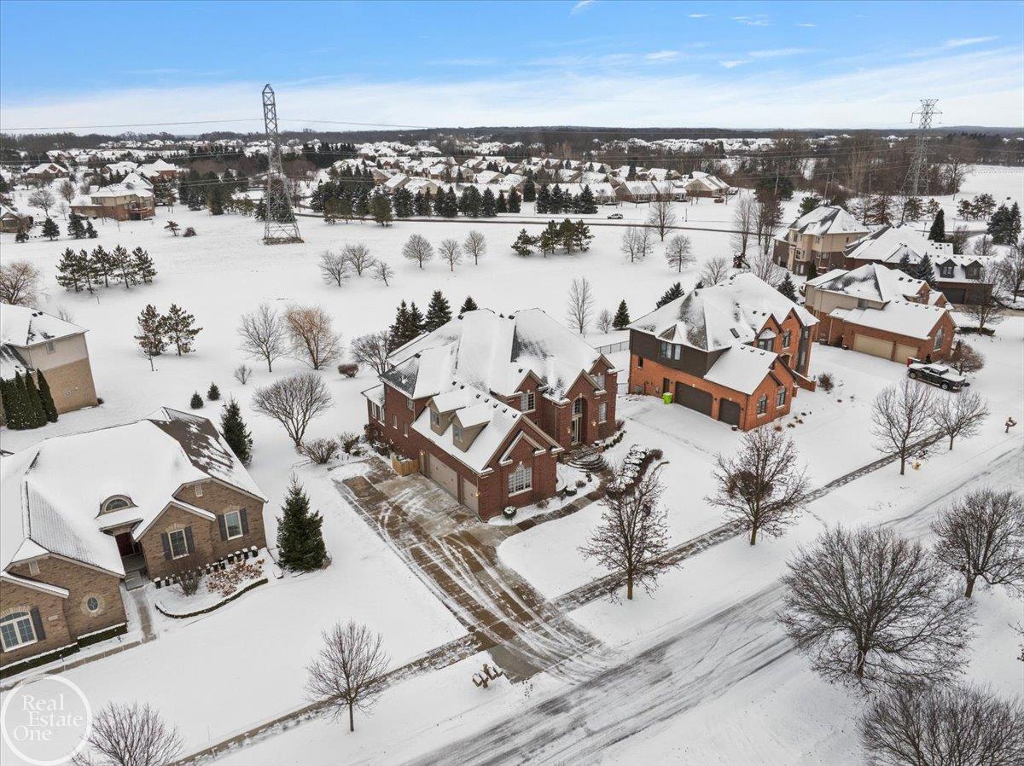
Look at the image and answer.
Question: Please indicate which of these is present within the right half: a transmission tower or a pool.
transmission tower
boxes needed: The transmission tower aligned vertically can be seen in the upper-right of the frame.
[897,93,946,197]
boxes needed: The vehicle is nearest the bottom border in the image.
[907,367,970,390]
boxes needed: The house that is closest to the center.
[361,306,624,521]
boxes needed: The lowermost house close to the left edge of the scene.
[0,407,271,663]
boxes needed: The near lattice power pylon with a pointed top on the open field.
[259,83,299,243]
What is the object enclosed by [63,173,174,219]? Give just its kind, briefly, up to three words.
house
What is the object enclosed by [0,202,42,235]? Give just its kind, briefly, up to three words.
house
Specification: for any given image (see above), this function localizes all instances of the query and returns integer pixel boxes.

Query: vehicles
[907,367,970,390]
[608,214,623,220]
